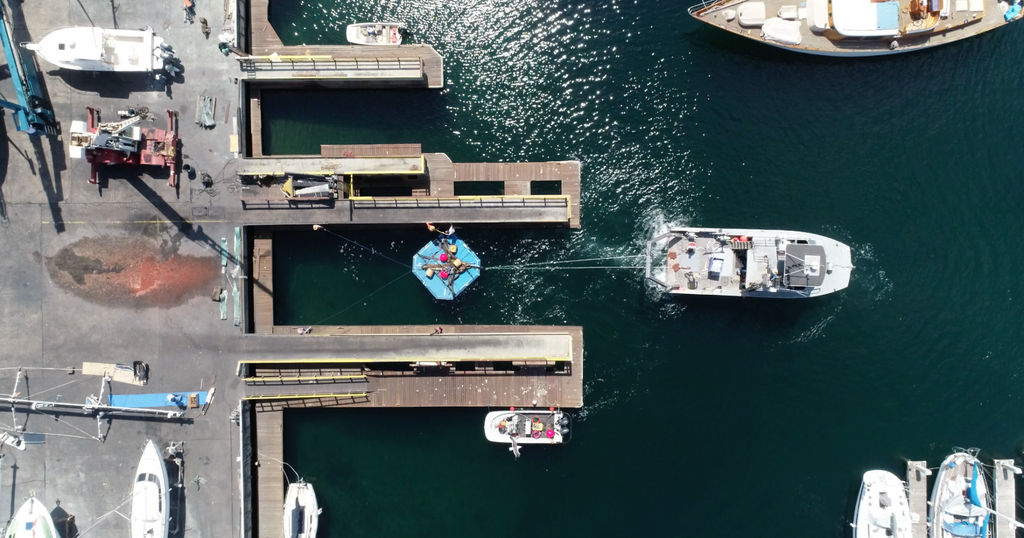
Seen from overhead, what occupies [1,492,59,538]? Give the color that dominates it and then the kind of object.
white boat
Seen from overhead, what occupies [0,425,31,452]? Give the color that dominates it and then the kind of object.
white boat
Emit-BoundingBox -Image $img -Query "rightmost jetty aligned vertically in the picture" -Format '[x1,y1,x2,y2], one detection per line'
[992,459,1017,538]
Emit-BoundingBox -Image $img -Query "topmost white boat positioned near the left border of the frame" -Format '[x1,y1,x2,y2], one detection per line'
[20,0,184,78]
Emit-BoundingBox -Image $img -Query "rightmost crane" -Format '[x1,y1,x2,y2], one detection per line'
[70,103,181,189]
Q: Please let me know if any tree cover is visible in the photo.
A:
No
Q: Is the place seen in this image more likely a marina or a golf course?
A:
marina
